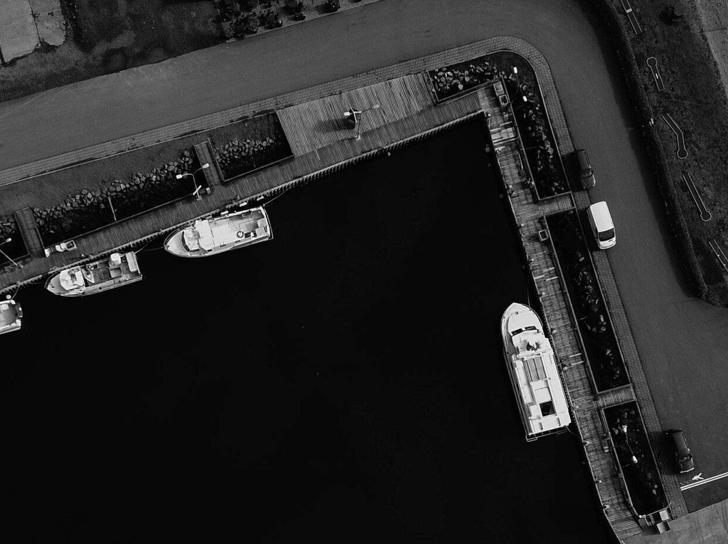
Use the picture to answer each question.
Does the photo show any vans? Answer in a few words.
Yes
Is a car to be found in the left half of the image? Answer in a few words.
No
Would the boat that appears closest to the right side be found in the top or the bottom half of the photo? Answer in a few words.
bottom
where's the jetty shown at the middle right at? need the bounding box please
[477,77,643,543]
